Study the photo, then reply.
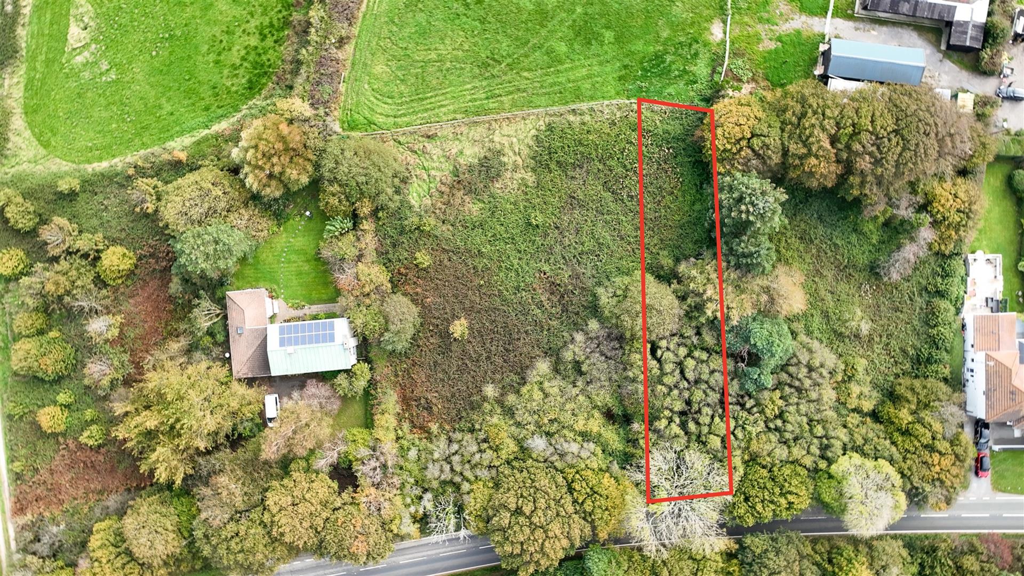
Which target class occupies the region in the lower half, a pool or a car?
car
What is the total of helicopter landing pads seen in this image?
0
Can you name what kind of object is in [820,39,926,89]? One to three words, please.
barn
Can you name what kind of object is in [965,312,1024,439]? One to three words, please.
house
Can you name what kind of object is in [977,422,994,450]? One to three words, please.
car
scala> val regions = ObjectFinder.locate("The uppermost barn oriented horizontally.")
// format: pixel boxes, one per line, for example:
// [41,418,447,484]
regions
[863,0,989,52]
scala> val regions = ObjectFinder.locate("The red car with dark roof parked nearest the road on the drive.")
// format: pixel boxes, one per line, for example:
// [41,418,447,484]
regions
[977,453,993,477]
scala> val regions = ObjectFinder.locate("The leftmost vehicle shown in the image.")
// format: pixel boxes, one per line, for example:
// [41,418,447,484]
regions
[263,395,279,426]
